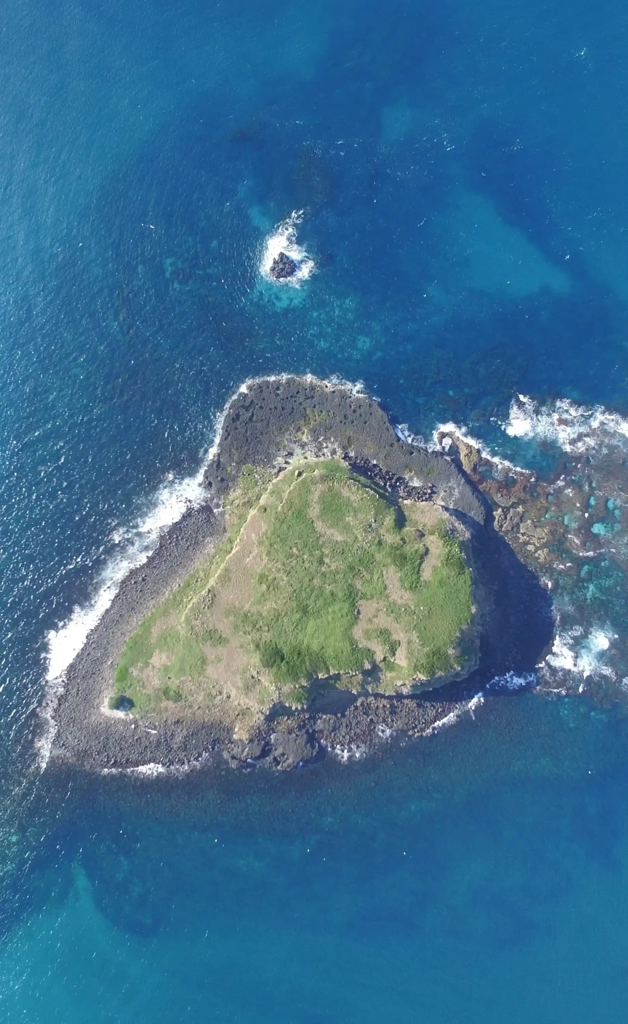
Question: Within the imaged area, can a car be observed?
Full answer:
No, I find no car anywhere in the image.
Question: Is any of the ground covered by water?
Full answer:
Yes, water can be seen from above here.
